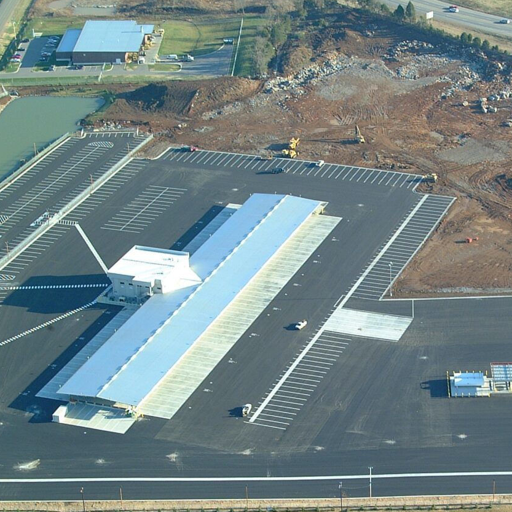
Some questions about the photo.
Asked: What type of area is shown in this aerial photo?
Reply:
sports ground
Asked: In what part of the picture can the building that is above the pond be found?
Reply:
top left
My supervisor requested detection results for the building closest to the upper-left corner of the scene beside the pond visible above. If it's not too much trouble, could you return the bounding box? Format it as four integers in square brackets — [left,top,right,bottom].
[57,20,155,62]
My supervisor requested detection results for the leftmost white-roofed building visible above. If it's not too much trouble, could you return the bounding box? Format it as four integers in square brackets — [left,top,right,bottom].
[107,242,202,301]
